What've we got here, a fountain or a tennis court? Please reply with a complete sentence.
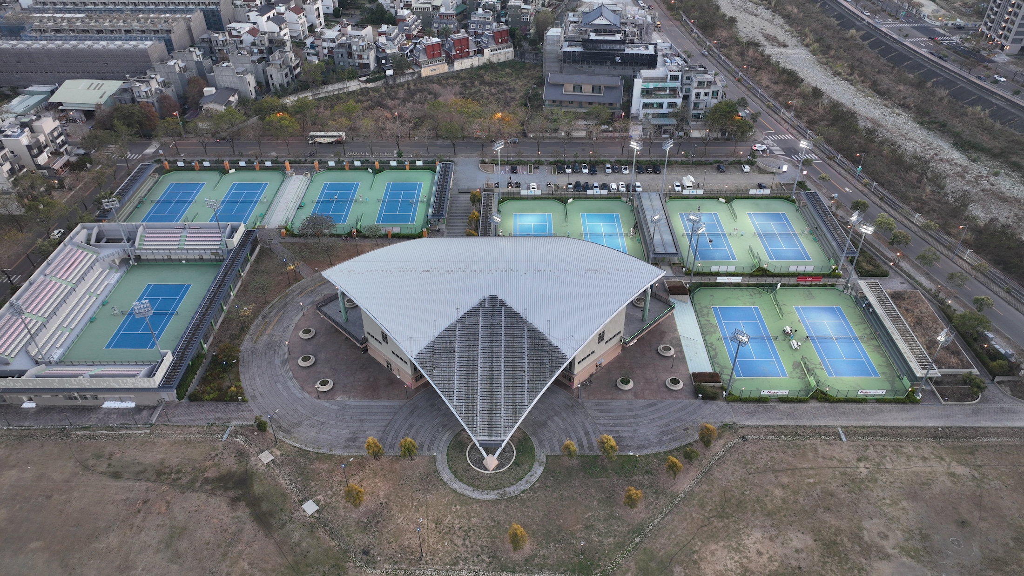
I can see a tennis court in this picture.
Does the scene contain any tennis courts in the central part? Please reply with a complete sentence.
Yes, a tennis court appears in the central part.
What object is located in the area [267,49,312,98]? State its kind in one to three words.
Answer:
house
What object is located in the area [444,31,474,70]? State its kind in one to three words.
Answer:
house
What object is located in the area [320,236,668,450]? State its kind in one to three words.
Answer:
building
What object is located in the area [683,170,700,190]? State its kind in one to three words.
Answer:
vehicle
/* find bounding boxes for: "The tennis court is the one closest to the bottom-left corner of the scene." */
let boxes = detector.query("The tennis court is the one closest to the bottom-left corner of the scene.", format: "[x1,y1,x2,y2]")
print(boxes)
[59,258,227,362]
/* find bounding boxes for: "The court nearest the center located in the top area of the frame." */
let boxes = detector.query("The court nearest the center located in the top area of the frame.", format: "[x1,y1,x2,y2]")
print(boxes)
[498,199,569,237]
